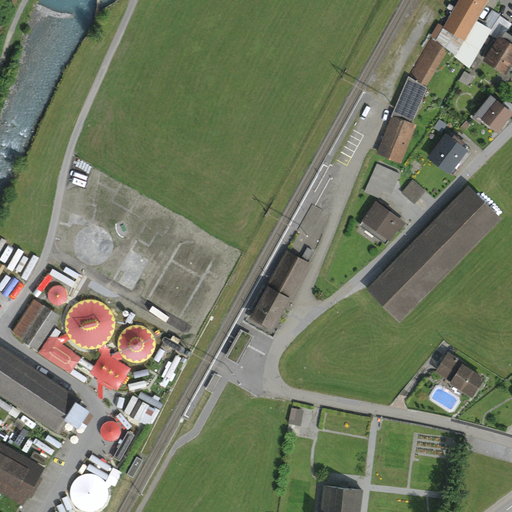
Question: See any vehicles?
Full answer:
Yes, a vehicle appears in the view.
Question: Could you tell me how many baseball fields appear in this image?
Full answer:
There are no baseball fields in the image.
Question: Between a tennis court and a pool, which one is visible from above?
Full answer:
This aerial view contains a pool.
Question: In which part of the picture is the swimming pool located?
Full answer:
The swimming pool appears toward the bottom right of the photo.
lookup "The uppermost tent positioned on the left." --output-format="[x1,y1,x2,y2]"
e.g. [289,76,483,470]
[46,282,72,309]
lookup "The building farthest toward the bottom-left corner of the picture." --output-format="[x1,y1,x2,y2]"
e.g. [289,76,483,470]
[0,442,44,506]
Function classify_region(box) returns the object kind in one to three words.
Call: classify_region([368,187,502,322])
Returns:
barn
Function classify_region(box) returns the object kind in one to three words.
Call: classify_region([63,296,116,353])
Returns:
tent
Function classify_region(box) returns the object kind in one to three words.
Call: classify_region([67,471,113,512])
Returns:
tent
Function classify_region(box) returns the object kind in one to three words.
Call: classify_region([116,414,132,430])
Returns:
vehicle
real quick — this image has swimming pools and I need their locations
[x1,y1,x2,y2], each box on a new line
[427,384,460,412]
